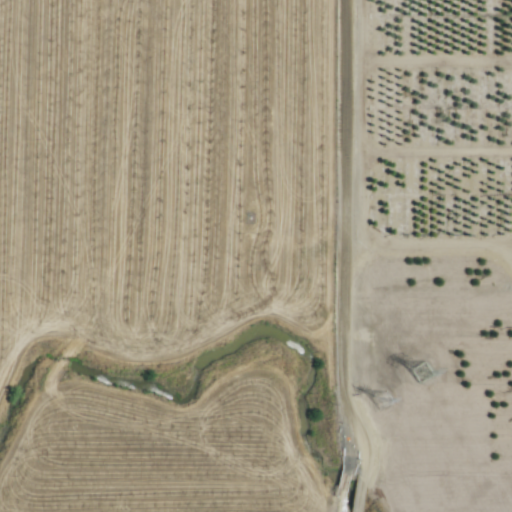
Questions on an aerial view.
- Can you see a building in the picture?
No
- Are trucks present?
No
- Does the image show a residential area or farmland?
farmland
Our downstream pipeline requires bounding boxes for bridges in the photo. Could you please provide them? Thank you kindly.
[336,446,360,491]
